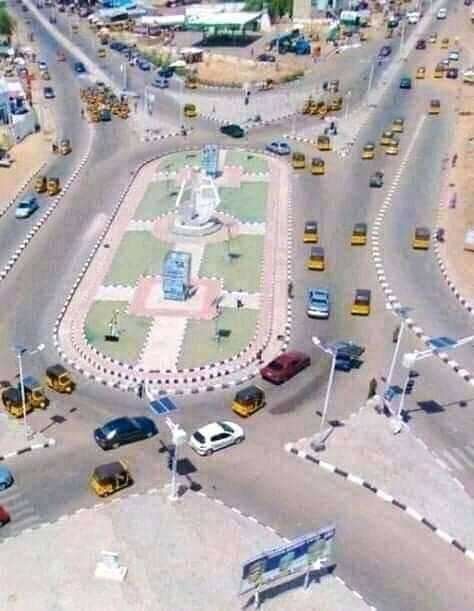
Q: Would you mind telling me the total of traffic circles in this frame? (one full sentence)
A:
There is 1 traffic circle in the image.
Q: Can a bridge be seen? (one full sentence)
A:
No, no bridge is visible in the scene.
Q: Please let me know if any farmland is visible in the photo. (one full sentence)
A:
No, farmland can't be seen anywhere here.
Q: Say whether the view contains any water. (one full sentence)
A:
No, there's no water in this view.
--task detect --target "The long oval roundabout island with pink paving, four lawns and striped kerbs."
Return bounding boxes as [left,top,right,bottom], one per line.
[53,147,293,393]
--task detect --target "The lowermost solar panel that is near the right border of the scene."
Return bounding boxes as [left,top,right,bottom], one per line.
[426,332,459,350]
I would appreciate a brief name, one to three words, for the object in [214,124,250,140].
car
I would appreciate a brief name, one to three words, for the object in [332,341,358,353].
solar panel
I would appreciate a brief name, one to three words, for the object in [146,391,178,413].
solar panel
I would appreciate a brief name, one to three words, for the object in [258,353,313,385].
car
